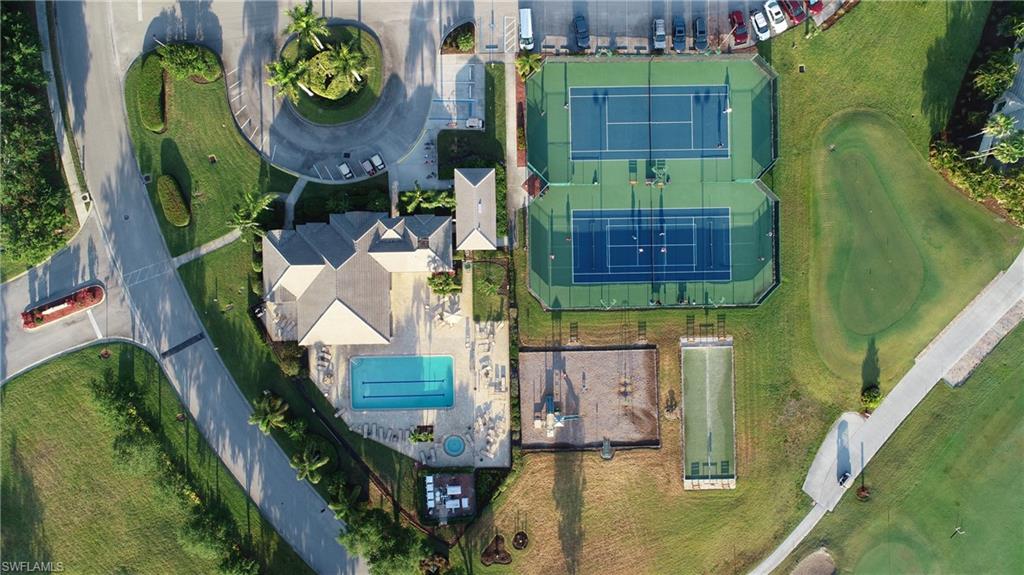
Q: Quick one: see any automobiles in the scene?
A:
Yes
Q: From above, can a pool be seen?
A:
Yes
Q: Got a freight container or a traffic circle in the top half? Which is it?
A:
traffic circle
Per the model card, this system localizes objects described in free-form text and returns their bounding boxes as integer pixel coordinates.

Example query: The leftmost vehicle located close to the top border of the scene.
[518,4,536,48]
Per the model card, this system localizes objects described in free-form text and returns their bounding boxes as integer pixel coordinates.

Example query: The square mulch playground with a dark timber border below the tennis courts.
[519,348,660,451]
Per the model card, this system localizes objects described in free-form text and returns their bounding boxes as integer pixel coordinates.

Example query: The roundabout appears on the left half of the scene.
[279,19,384,125]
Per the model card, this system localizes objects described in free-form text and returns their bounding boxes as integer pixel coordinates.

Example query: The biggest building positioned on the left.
[262,211,453,345]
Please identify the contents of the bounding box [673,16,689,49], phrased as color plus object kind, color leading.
blue car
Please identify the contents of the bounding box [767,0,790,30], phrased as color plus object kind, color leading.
white car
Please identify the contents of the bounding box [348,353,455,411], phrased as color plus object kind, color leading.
blue swimming pool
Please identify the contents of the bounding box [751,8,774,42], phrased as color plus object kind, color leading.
white car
